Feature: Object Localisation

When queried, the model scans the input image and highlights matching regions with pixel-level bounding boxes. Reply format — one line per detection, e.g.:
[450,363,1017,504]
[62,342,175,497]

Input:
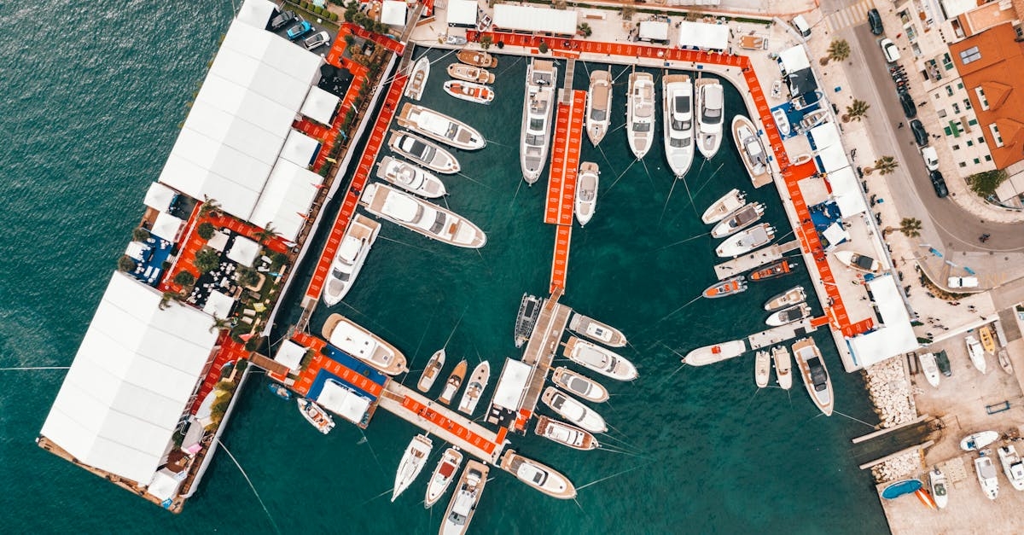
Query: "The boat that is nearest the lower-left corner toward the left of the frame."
[268,384,293,400]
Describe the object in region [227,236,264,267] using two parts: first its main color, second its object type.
white tent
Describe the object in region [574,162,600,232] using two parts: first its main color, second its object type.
white boat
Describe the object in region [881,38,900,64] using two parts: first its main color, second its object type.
white car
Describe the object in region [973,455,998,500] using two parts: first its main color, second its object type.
white boat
